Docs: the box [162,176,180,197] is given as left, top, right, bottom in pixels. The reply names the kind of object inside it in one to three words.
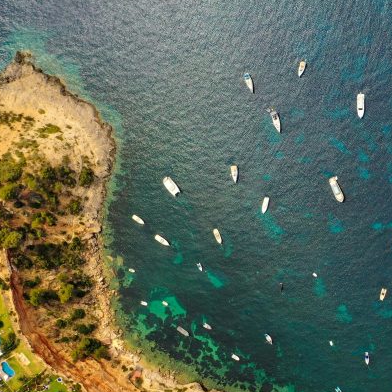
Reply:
boat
